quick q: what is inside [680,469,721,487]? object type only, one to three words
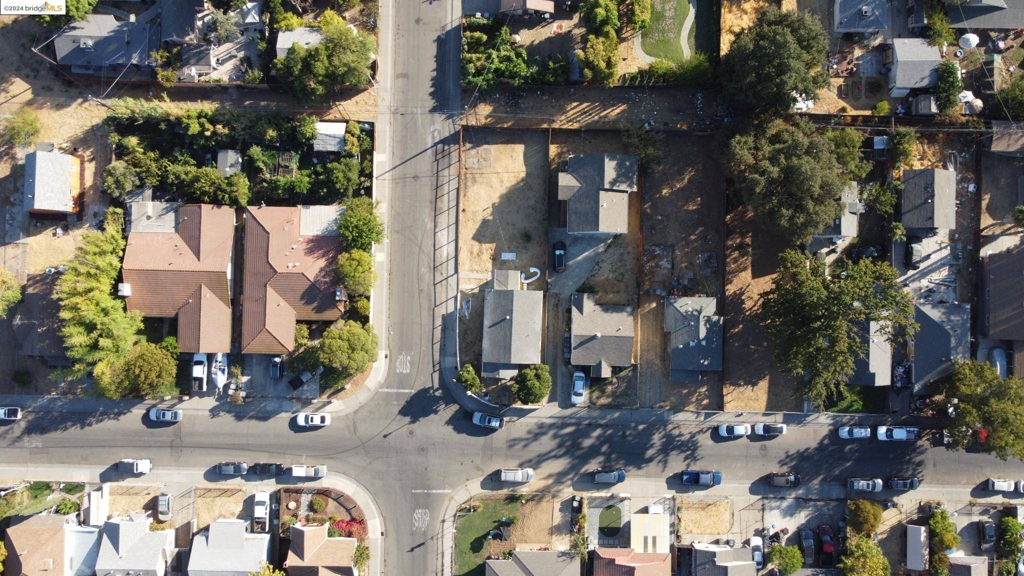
vehicle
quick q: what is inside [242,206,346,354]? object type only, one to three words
house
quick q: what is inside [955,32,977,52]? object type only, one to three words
umbrella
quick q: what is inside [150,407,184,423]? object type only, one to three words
car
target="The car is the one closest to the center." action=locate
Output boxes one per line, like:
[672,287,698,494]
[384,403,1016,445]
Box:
[552,241,568,272]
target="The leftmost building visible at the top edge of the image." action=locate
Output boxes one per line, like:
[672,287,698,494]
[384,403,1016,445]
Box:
[54,15,162,81]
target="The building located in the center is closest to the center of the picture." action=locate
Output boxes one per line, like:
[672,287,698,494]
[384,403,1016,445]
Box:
[482,270,543,379]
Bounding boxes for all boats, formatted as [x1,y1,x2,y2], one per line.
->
[210,353,226,391]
